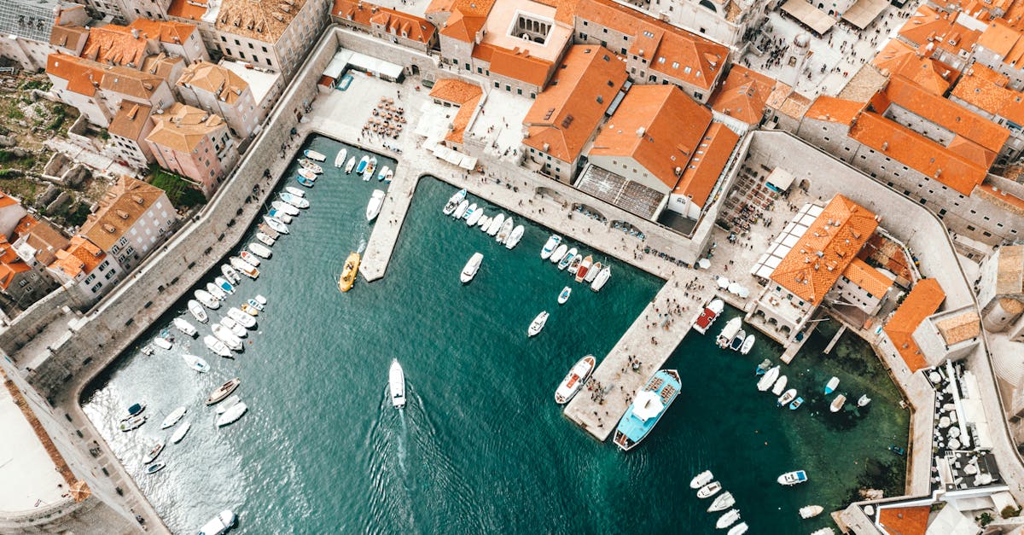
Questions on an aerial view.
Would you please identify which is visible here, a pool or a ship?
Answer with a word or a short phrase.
ship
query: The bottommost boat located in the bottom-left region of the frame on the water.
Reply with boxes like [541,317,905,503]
[194,513,236,535]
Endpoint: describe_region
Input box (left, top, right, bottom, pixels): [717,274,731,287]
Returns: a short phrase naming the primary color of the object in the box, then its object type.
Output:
white umbrella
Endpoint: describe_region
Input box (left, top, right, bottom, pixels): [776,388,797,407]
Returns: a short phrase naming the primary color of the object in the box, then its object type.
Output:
white boat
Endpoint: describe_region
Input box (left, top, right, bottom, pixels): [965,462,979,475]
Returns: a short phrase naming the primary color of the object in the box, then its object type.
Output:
white umbrella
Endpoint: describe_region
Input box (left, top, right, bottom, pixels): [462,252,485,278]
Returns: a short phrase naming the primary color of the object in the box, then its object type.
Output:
white boat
